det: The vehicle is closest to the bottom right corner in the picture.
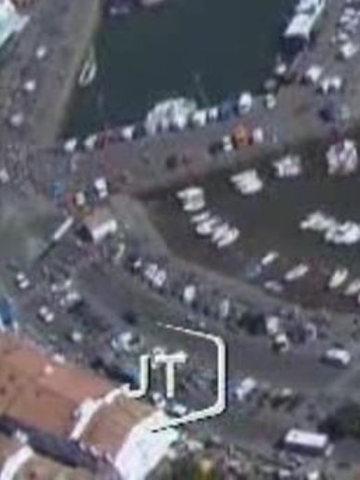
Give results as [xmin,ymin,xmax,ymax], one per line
[304,465,321,480]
